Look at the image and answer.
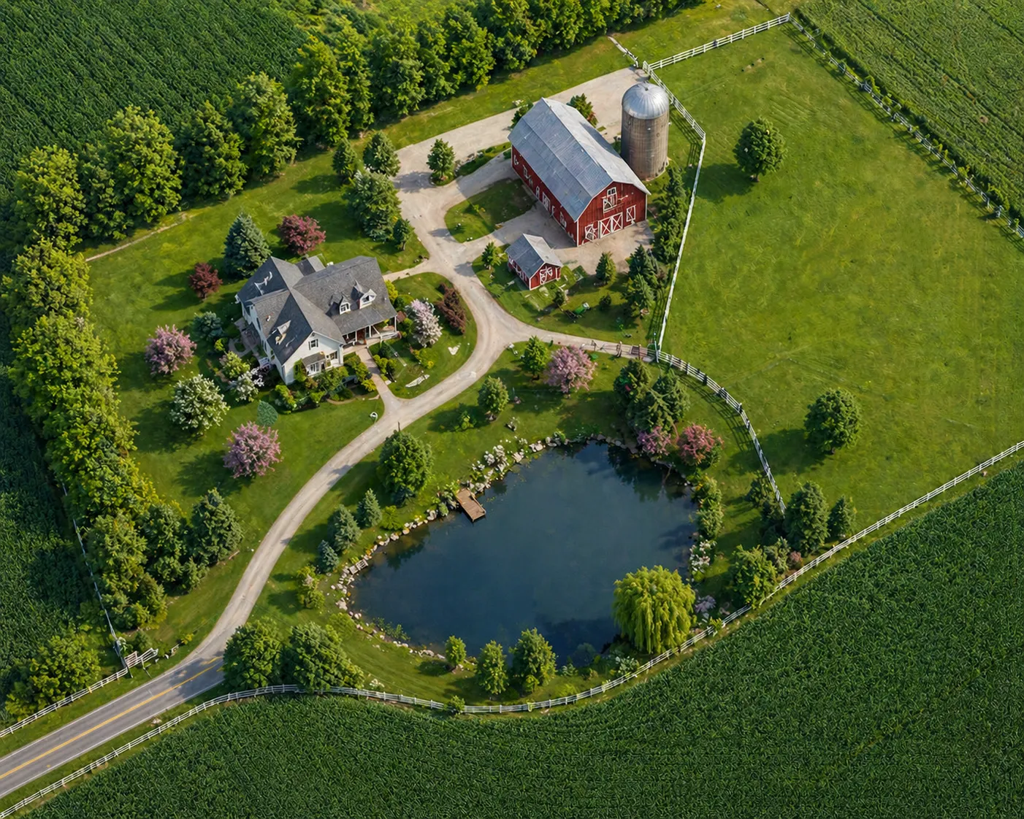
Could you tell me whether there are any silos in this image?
Yes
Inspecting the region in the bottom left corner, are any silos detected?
No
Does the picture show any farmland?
Yes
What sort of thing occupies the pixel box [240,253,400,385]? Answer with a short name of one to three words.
house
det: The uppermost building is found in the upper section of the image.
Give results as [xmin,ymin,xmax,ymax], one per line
[502,104,656,246]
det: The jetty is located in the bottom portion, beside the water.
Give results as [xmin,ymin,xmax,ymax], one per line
[455,489,486,524]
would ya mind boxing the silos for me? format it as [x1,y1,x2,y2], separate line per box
[621,87,672,181]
